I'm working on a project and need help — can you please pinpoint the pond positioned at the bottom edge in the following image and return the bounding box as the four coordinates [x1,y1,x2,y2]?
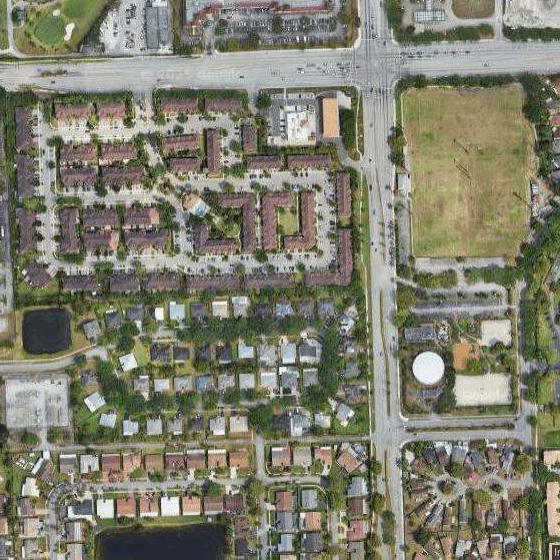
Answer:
[97,525,233,560]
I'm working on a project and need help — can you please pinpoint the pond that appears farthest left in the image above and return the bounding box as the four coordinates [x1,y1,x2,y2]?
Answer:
[23,310,69,354]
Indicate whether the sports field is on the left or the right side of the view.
right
